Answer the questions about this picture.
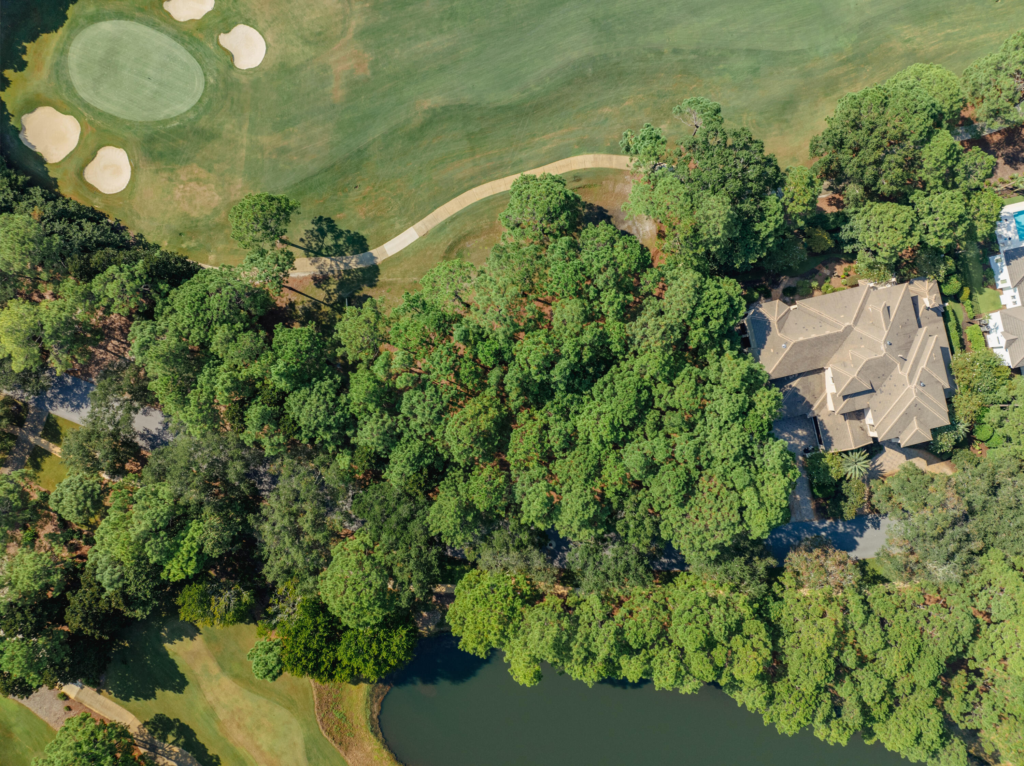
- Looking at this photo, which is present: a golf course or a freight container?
golf course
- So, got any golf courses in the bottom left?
Yes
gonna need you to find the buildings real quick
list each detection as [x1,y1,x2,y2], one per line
[737,277,958,454]
[981,246,1024,368]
